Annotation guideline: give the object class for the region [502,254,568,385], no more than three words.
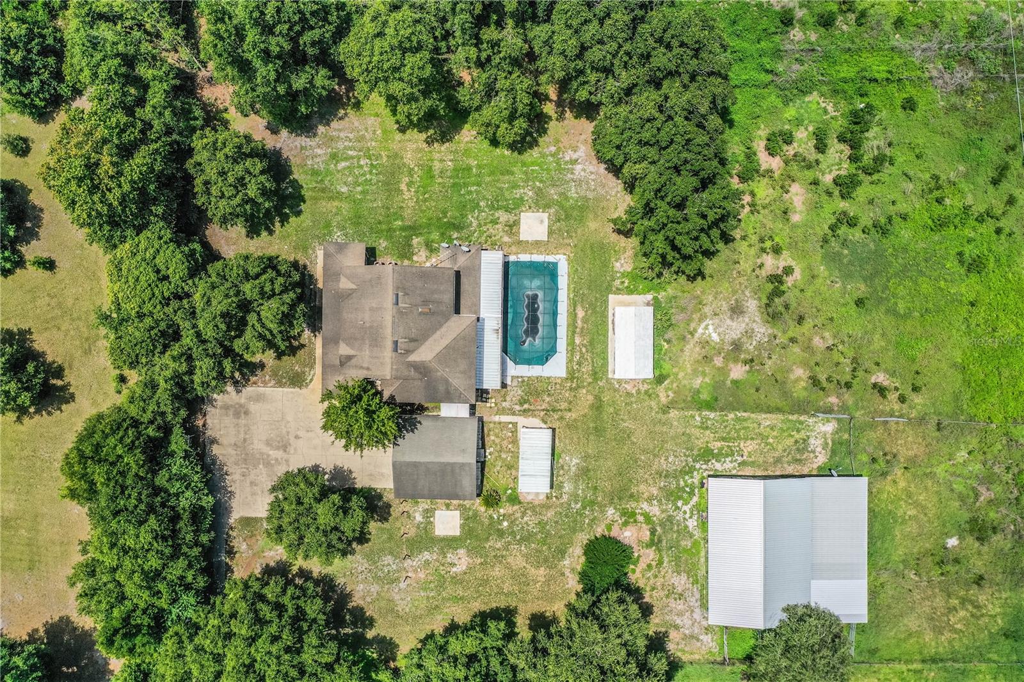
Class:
swimming pool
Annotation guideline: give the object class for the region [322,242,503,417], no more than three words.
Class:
house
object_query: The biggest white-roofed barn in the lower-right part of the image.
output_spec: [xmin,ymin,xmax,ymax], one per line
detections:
[708,474,868,629]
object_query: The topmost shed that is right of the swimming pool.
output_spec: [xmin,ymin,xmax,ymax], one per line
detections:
[613,307,654,379]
